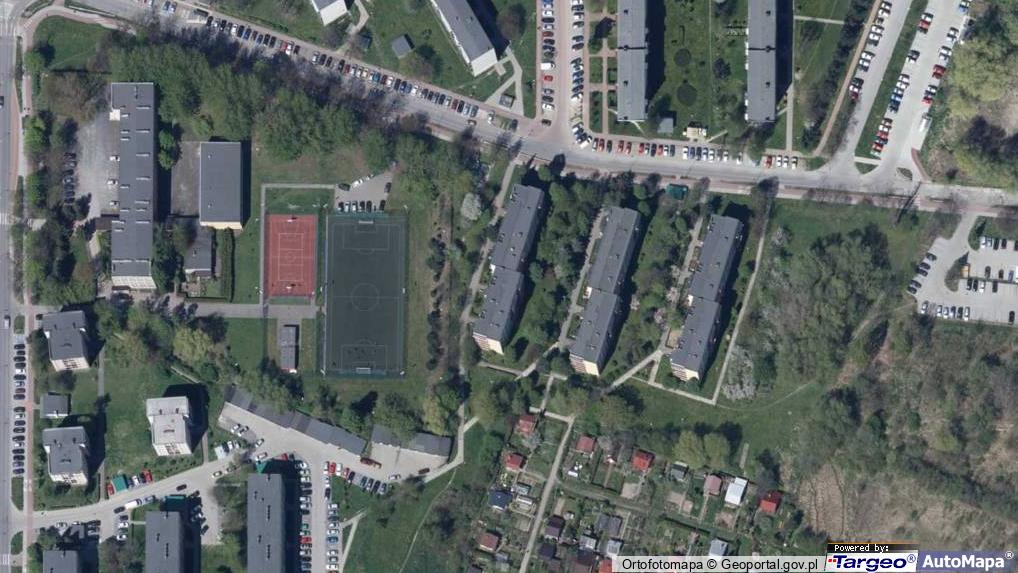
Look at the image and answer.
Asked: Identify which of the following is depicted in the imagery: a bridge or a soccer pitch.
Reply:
soccer pitch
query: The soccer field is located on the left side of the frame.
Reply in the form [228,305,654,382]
[324,213,407,377]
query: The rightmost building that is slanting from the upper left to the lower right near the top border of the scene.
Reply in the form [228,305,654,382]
[427,0,496,77]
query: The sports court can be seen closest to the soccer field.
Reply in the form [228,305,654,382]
[265,214,319,303]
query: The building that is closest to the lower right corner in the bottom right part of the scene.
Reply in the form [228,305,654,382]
[760,492,780,514]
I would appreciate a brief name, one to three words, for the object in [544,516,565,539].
house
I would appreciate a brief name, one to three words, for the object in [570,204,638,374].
building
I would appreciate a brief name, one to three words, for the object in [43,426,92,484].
building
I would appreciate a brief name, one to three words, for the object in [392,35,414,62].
shed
